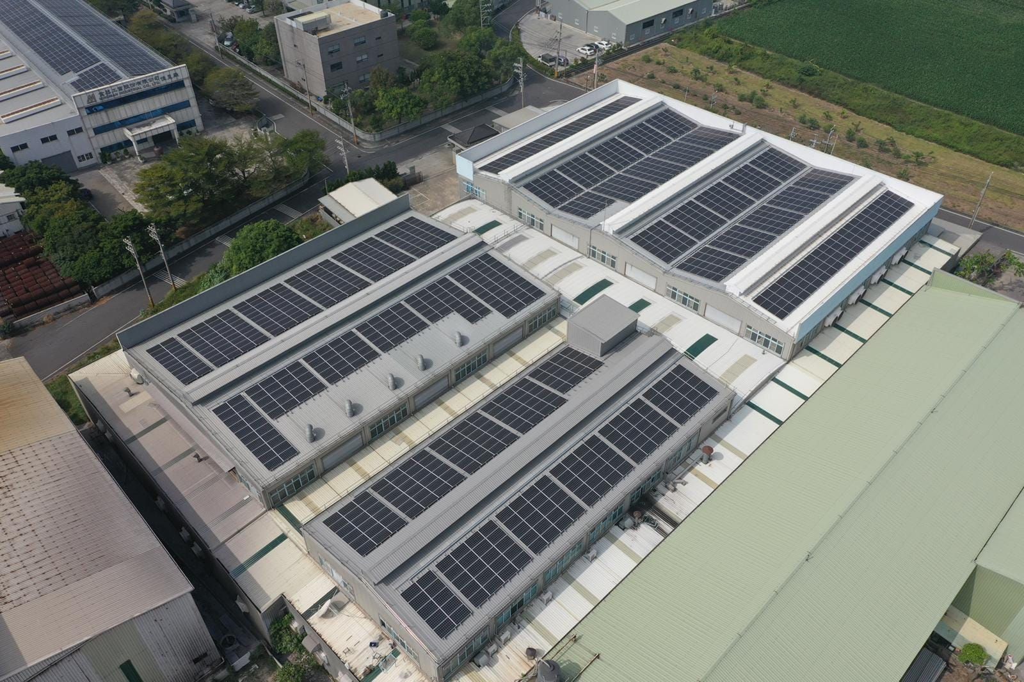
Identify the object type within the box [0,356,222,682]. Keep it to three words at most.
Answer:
warehouse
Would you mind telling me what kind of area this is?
industrial area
